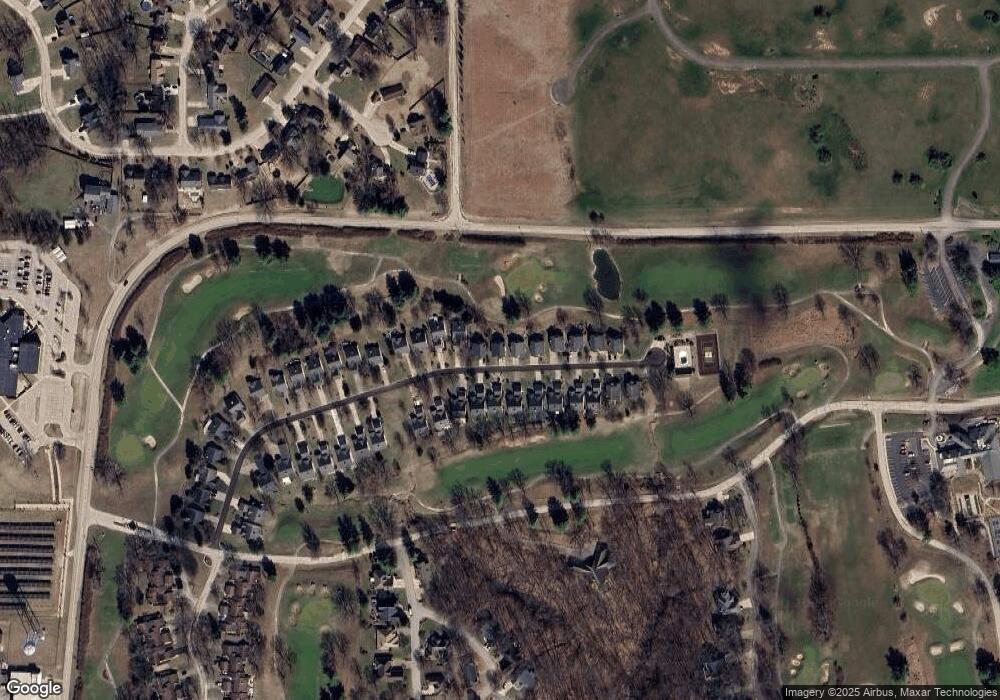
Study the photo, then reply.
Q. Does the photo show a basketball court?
No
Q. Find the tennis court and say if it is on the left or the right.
right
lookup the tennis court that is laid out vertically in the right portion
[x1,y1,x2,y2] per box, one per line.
[696,334,720,376]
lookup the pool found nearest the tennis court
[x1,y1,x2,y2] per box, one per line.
[674,345,692,367]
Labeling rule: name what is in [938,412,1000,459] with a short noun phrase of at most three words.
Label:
building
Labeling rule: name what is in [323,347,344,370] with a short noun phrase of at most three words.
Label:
house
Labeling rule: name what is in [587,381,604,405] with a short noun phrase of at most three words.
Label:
house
